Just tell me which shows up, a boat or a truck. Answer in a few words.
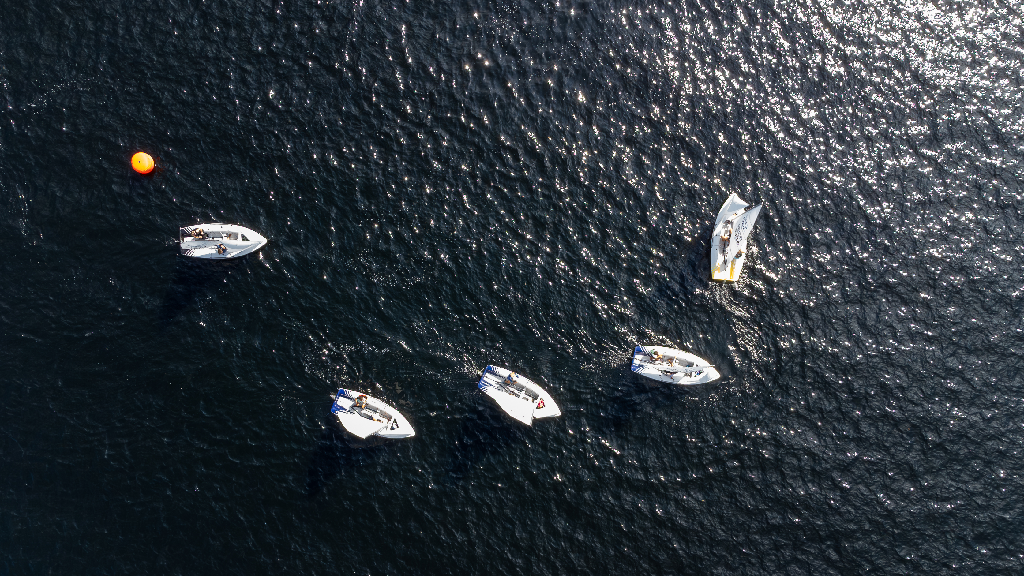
boat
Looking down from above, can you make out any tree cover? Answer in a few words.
No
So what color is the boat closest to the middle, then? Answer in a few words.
white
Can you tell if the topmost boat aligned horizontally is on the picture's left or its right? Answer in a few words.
left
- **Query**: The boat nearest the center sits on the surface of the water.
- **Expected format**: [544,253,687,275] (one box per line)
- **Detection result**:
[476,365,561,425]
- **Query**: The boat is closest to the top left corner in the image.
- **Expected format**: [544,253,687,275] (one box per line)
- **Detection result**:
[175,224,266,260]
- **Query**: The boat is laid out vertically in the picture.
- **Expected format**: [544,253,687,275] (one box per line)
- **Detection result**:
[710,192,761,287]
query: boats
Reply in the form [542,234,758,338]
[330,388,415,441]
[710,192,761,287]
[627,344,720,385]
[476,365,561,425]
[175,224,266,260]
